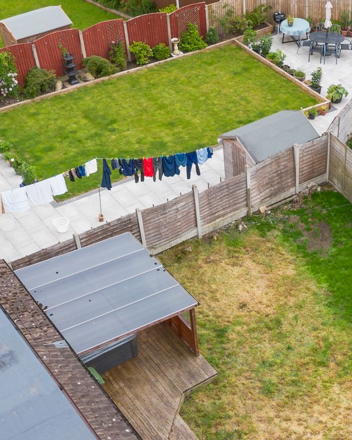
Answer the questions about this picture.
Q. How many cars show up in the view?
0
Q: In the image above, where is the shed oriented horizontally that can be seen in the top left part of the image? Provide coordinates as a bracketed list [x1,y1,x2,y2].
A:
[0,11,84,50]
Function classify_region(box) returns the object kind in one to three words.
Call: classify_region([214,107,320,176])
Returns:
shed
